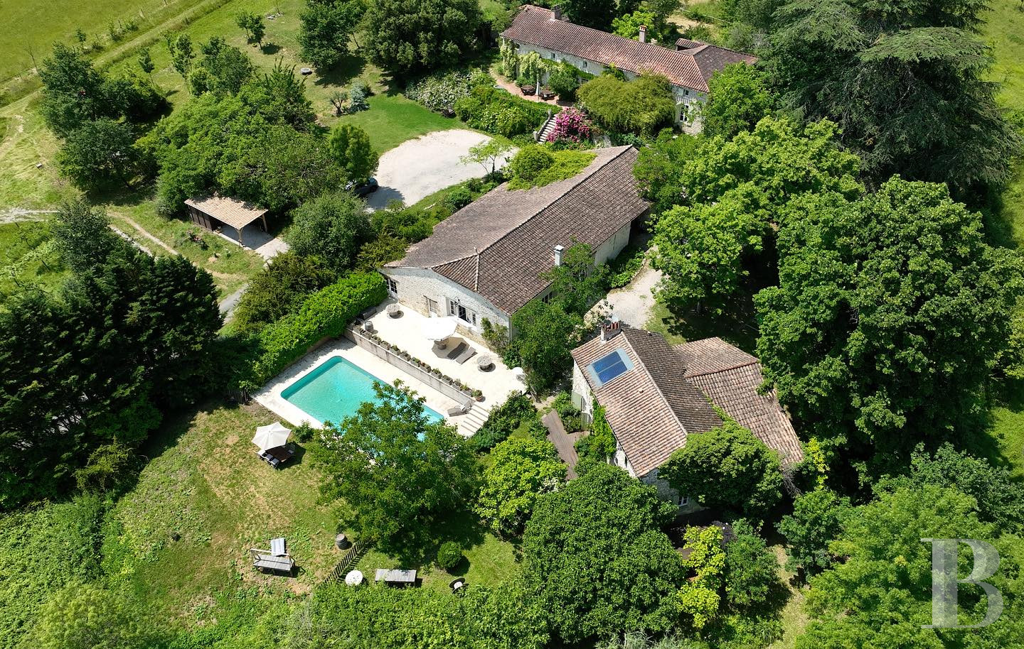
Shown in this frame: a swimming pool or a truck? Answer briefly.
swimming pool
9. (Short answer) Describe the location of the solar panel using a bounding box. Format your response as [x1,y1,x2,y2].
[586,346,635,384]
